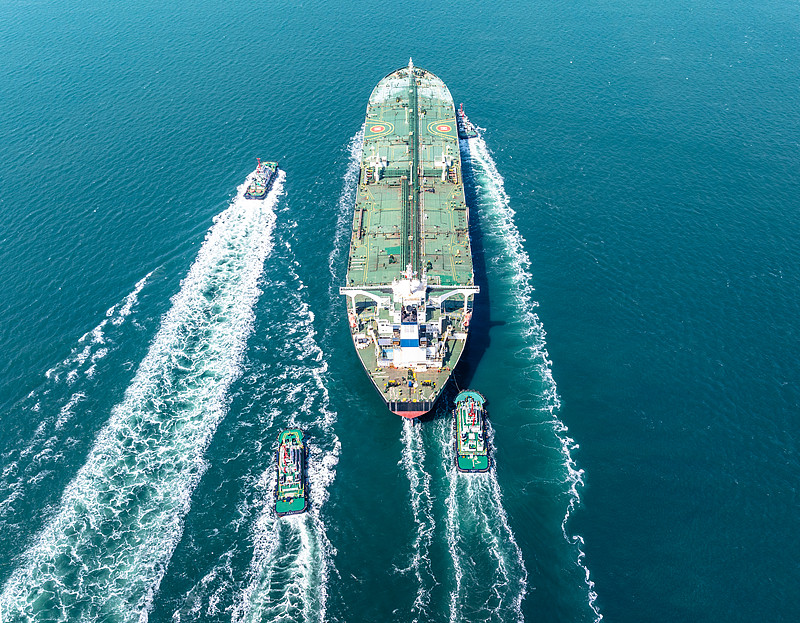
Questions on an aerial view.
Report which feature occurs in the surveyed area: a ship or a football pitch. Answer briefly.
ship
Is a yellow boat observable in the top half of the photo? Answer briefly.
No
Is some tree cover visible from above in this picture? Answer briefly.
No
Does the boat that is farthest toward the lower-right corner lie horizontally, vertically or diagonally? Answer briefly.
vertically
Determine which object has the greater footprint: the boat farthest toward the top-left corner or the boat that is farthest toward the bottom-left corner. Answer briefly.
the boat that is farthest toward the bottom-left corner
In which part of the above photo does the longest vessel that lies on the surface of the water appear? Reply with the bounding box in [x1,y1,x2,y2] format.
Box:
[339,59,483,421]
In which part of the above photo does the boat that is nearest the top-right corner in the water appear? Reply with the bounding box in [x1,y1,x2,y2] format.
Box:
[455,104,479,139]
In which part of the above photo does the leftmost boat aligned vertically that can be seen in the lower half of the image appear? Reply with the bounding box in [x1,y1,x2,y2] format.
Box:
[273,425,309,521]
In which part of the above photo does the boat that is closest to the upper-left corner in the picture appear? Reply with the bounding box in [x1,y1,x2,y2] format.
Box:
[246,158,278,202]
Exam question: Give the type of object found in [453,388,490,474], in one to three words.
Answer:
boat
